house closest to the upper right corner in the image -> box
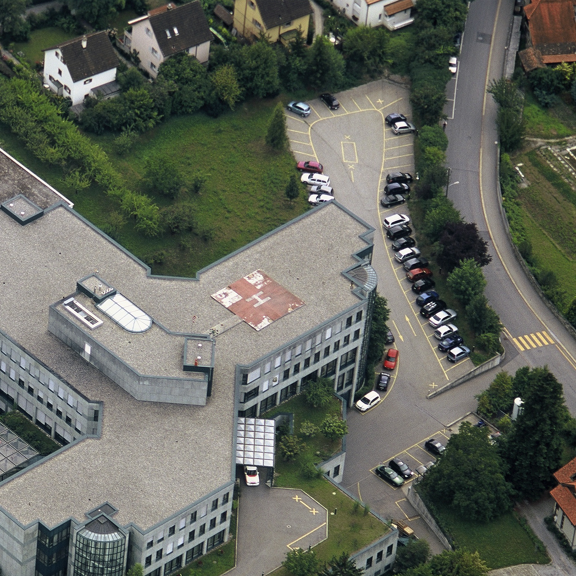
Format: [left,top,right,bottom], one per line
[509,0,576,80]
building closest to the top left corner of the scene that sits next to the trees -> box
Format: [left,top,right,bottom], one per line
[45,31,120,101]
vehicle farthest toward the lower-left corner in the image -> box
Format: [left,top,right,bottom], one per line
[245,469,260,489]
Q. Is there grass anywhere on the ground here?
Yes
